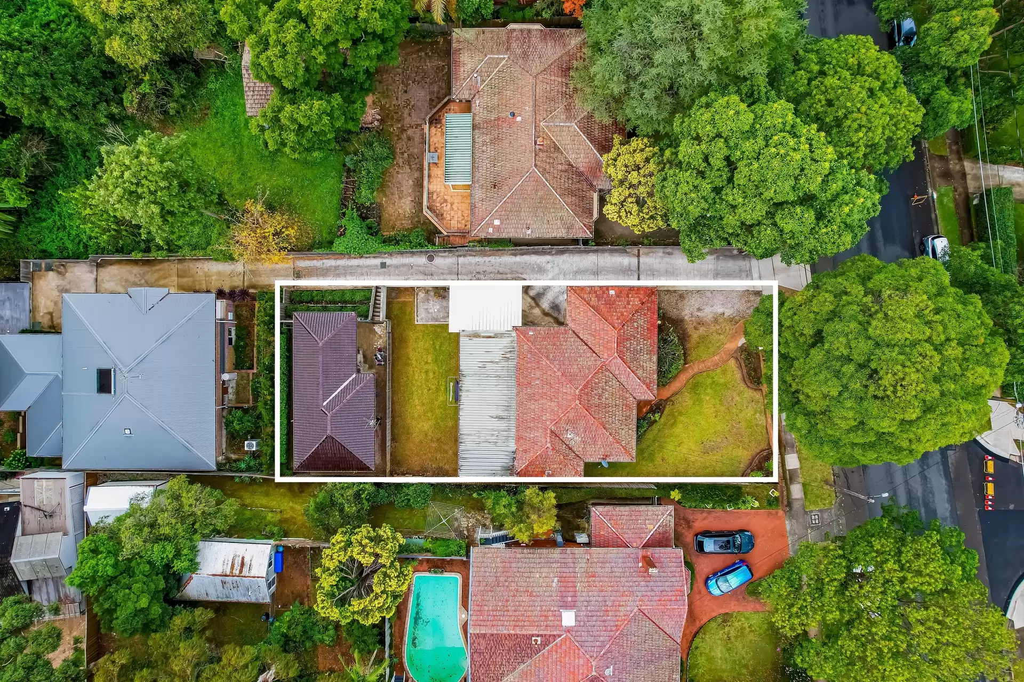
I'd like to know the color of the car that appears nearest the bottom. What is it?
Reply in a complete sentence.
The color of the car that appears nearest the bottom is blue.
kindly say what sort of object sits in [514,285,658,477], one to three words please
house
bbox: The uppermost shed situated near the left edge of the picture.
[0,282,49,331]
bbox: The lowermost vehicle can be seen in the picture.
[700,556,756,595]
